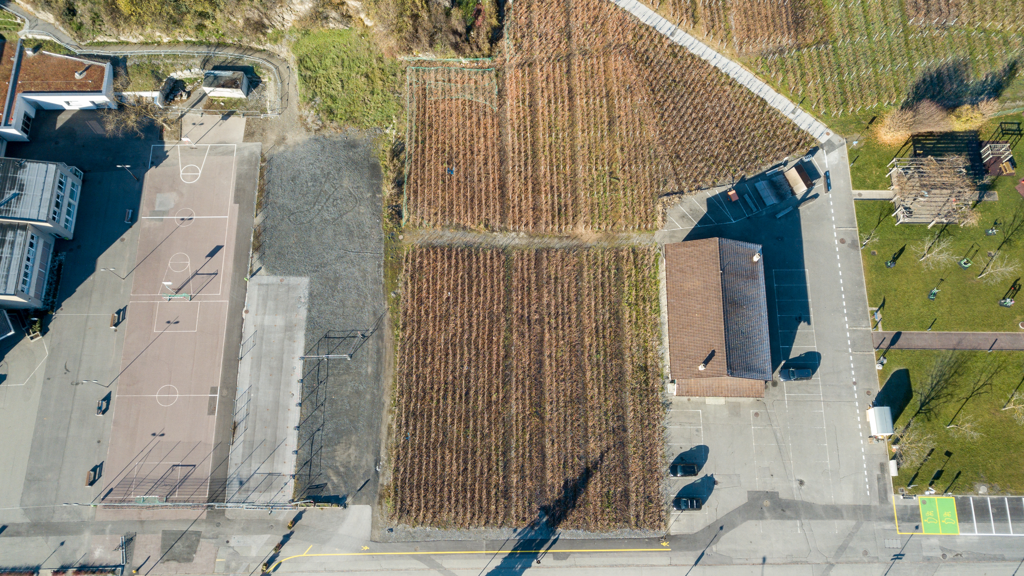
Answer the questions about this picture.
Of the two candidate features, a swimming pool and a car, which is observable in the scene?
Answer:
car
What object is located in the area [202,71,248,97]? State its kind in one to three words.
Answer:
shed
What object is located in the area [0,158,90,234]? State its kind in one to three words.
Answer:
building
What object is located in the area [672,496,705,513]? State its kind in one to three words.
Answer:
car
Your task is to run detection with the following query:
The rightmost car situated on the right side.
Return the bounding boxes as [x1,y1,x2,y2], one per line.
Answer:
[781,368,817,384]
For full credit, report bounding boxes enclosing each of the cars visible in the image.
[672,496,705,513]
[670,462,701,479]
[781,368,817,384]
